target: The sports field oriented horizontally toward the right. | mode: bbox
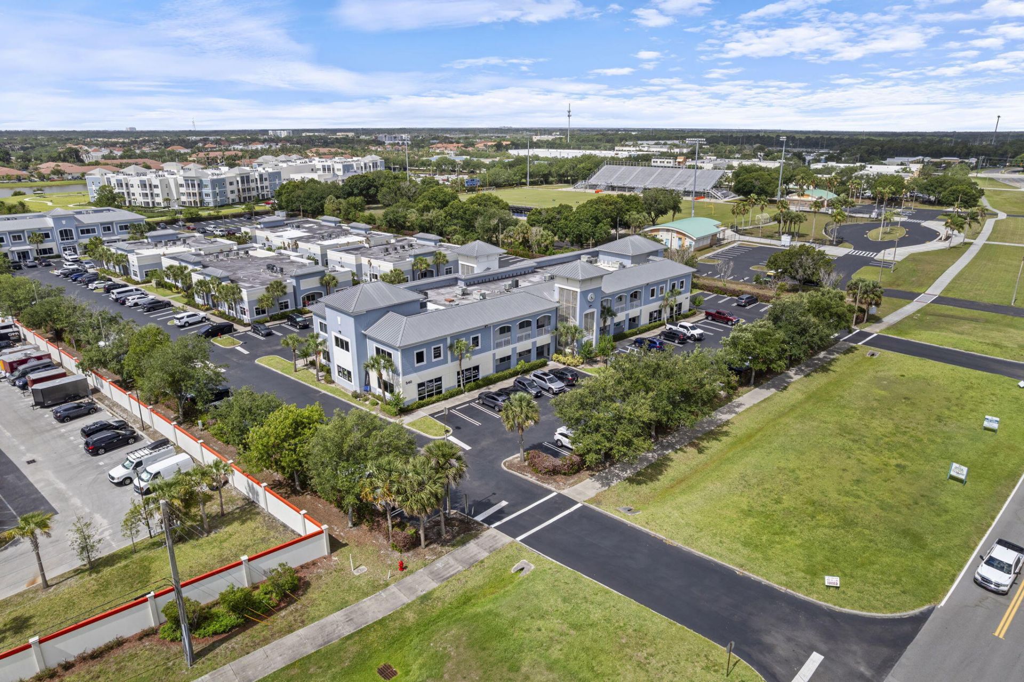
[494,186,830,247]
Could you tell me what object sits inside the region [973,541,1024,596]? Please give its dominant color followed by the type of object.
white truck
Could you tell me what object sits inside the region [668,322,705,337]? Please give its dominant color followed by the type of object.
white vehicle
